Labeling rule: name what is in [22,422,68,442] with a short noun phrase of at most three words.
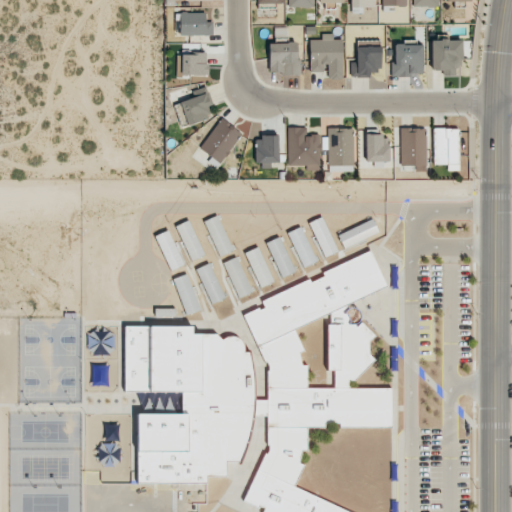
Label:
sports court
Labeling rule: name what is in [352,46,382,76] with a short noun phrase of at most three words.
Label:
house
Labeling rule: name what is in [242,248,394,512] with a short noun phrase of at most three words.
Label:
building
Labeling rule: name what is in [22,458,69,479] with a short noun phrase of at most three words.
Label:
sports court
